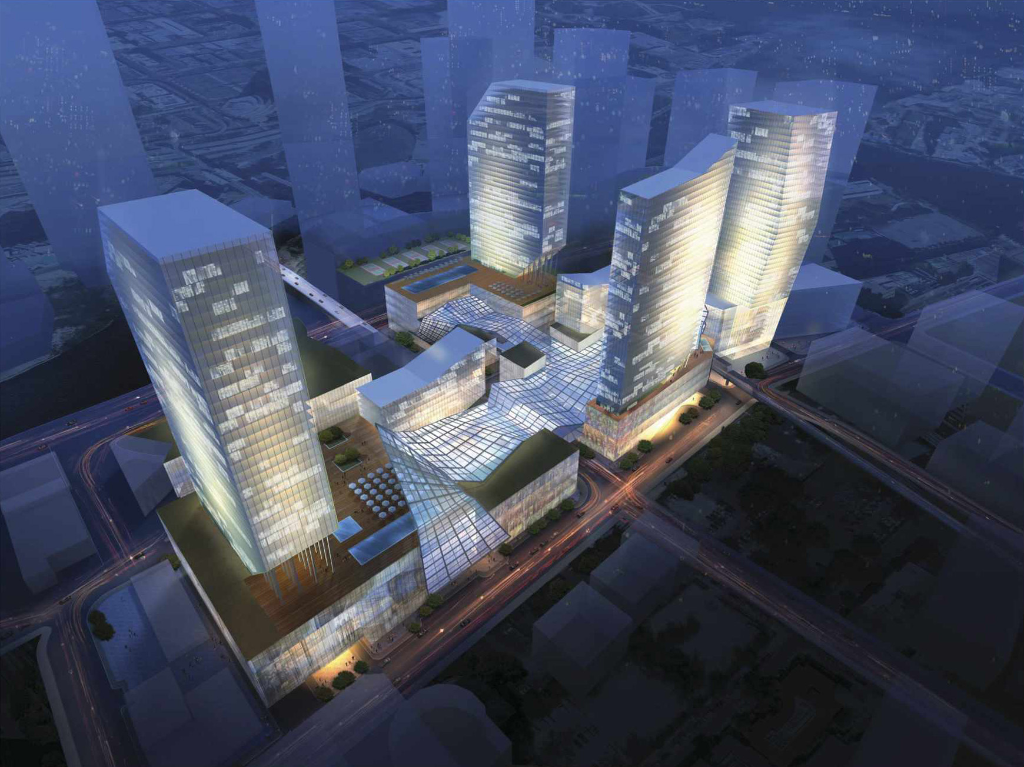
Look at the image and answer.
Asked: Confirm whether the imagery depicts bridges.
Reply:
Yes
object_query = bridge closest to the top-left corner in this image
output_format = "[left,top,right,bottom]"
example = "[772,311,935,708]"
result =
[281,268,406,354]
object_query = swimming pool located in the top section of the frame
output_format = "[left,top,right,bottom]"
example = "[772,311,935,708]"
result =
[401,264,479,293]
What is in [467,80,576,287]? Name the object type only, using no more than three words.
building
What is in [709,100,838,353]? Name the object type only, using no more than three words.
building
